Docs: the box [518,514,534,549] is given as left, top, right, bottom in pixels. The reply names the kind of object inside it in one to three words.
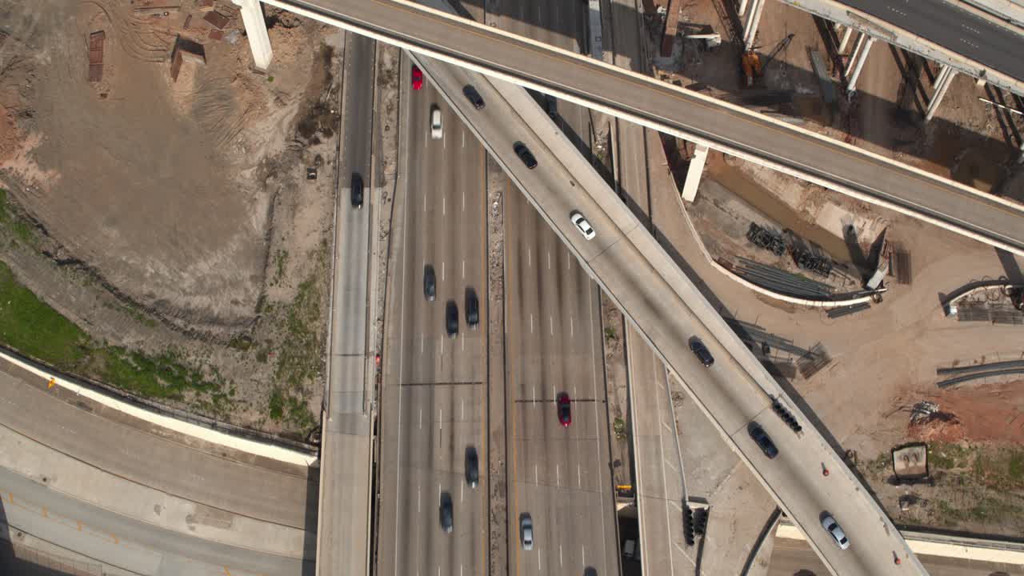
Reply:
car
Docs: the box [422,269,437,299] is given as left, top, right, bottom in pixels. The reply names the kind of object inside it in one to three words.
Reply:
car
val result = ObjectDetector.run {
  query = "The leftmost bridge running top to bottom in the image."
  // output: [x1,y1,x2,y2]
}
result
[314,415,376,576]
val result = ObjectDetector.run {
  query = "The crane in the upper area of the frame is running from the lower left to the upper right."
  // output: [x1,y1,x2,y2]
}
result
[740,38,788,93]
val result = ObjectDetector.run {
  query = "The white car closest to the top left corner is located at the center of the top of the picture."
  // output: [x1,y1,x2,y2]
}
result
[429,109,443,135]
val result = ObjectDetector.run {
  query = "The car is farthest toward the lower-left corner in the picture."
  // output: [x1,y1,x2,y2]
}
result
[438,494,454,529]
